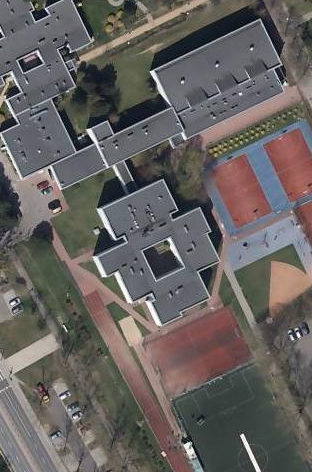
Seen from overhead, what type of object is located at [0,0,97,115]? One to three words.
building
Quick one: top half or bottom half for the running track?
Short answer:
bottom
